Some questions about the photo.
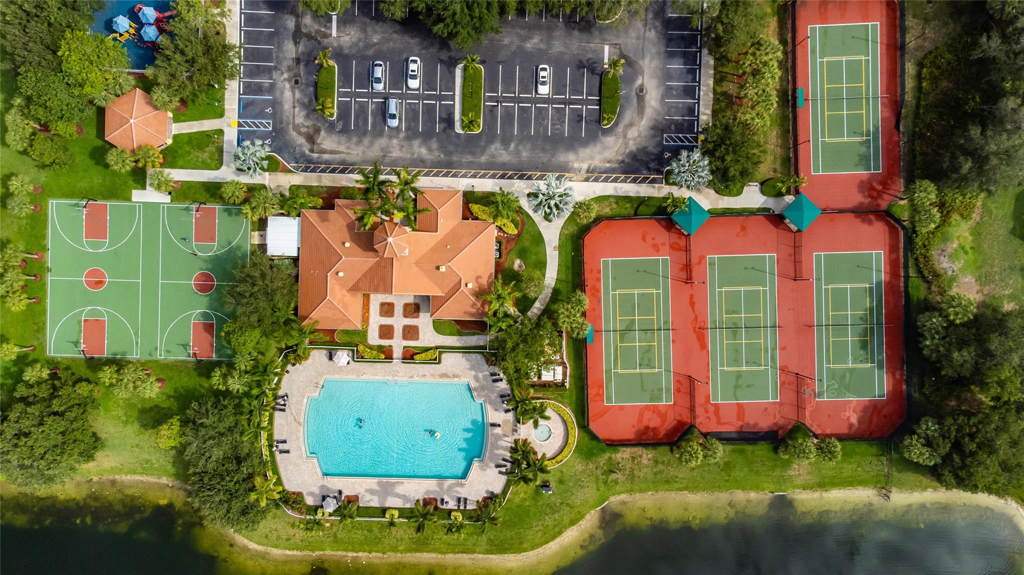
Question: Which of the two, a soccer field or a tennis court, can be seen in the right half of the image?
tennis court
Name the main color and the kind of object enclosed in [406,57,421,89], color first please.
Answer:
white car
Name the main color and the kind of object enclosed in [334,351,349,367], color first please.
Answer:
white umbrella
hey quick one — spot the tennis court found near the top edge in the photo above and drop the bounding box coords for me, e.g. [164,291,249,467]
[789,0,901,211]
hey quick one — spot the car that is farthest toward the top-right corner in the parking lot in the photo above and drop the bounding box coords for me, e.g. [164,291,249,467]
[537,65,550,95]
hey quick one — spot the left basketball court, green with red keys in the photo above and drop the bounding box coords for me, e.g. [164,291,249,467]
[46,199,151,359]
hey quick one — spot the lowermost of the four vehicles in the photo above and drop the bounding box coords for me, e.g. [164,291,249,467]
[385,96,399,128]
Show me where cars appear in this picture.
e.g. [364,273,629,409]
[537,65,550,95]
[371,60,385,91]
[385,96,399,128]
[406,57,421,89]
